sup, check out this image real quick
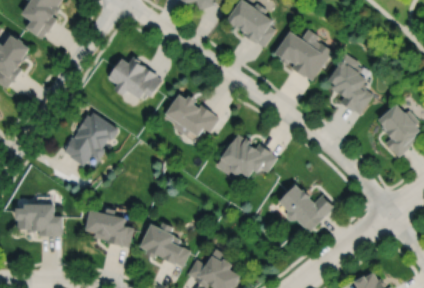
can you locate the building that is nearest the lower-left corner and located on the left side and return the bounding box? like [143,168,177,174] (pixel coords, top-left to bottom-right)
[16,204,64,237]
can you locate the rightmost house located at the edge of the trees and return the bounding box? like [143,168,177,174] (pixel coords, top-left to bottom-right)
[378,106,420,157]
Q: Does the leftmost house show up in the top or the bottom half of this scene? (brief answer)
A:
top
